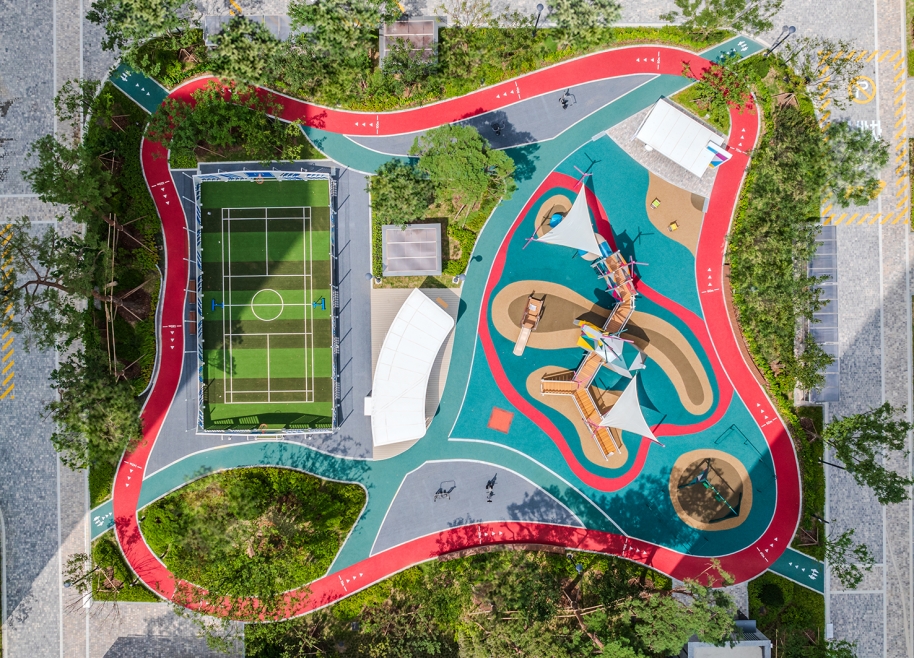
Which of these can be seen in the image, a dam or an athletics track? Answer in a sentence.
I can see an athletics track in this picture.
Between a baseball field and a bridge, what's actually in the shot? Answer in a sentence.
Visible in the photo is a bridge.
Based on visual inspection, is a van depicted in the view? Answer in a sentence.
No, I find no van anywhere in the image.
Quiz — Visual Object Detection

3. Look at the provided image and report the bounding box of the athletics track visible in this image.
[112,44,803,624]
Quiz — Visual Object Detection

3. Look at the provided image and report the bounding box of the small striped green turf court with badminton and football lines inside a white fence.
[203,180,333,430]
